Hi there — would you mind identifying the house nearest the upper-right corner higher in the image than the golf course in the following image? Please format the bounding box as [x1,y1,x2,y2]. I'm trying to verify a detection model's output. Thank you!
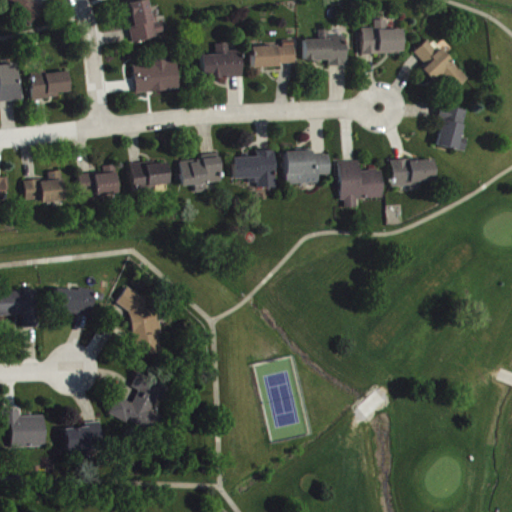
[413,40,470,86]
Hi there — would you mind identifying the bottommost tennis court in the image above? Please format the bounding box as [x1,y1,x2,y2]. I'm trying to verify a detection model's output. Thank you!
[252,354,312,444]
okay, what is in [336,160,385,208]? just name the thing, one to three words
house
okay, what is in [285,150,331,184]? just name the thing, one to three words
house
